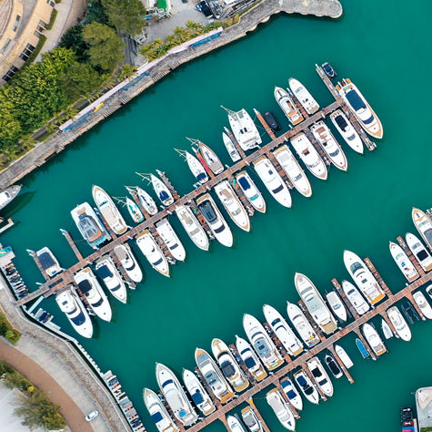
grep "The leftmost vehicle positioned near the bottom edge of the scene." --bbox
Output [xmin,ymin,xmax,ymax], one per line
[85,409,101,422]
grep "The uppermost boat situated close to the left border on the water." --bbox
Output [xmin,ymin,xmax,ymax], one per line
[0,185,21,212]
